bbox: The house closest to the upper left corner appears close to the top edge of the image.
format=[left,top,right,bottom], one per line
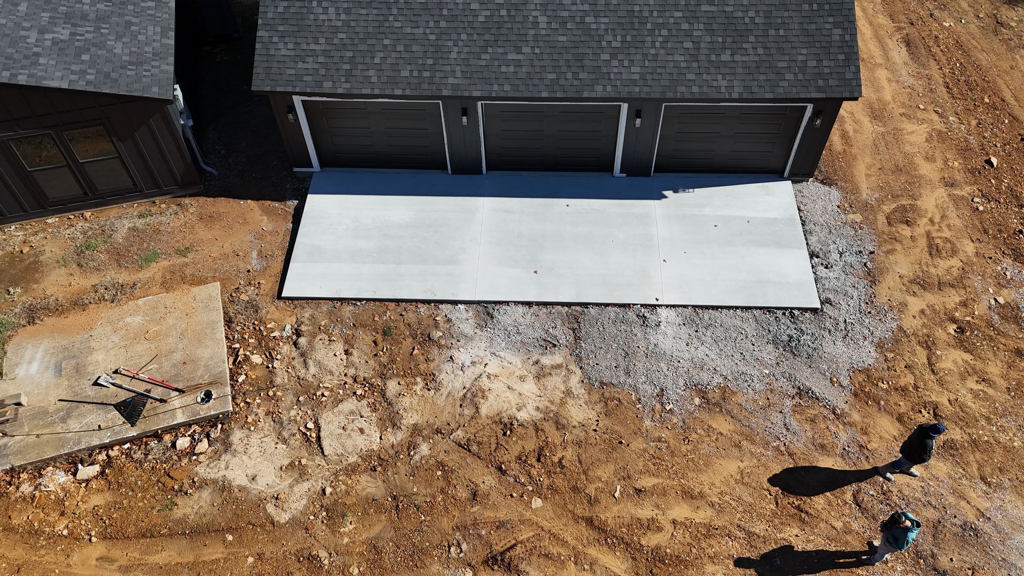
[0,0,241,228]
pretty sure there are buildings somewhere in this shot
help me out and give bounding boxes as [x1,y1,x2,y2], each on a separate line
[251,0,861,181]
[0,0,241,228]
